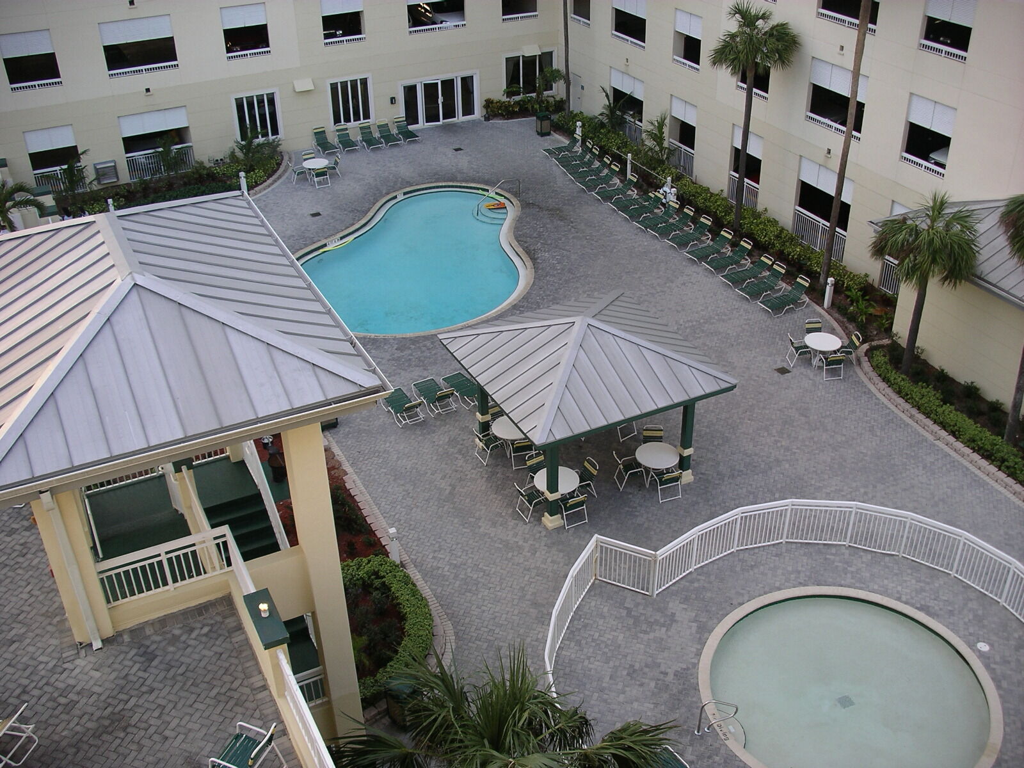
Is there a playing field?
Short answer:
No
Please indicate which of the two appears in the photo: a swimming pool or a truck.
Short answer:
swimming pool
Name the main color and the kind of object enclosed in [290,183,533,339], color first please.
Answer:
blue swimming pool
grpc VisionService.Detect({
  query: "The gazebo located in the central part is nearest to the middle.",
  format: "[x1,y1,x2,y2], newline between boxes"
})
[439,289,739,531]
